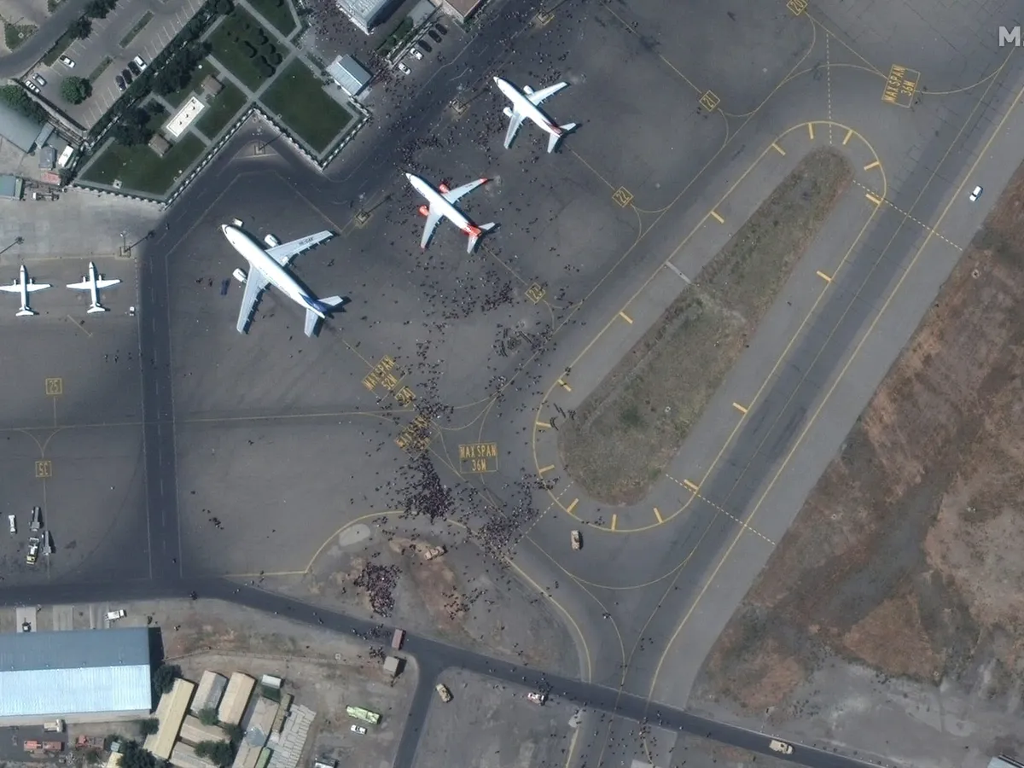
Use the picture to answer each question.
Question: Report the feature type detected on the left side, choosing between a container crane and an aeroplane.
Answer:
aeroplane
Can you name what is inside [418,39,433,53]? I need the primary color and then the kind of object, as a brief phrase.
black car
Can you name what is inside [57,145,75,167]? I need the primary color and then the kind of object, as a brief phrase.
white vehicle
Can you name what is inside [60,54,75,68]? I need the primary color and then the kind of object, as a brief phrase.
white vehicle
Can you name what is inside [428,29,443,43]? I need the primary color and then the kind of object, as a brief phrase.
black car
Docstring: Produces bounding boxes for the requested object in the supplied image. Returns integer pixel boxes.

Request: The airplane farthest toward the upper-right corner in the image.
[493,77,576,151]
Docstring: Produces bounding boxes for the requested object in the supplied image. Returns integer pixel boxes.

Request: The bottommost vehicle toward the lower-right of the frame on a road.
[768,740,792,754]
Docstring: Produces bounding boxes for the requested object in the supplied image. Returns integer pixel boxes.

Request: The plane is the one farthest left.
[0,266,50,316]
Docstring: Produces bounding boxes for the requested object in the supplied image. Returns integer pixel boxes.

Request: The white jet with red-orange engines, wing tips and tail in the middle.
[406,173,498,251]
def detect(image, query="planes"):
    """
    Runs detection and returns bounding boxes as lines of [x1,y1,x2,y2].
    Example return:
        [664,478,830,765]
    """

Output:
[0,266,50,316]
[66,262,120,313]
[493,77,576,151]
[222,224,344,335]
[406,173,498,251]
